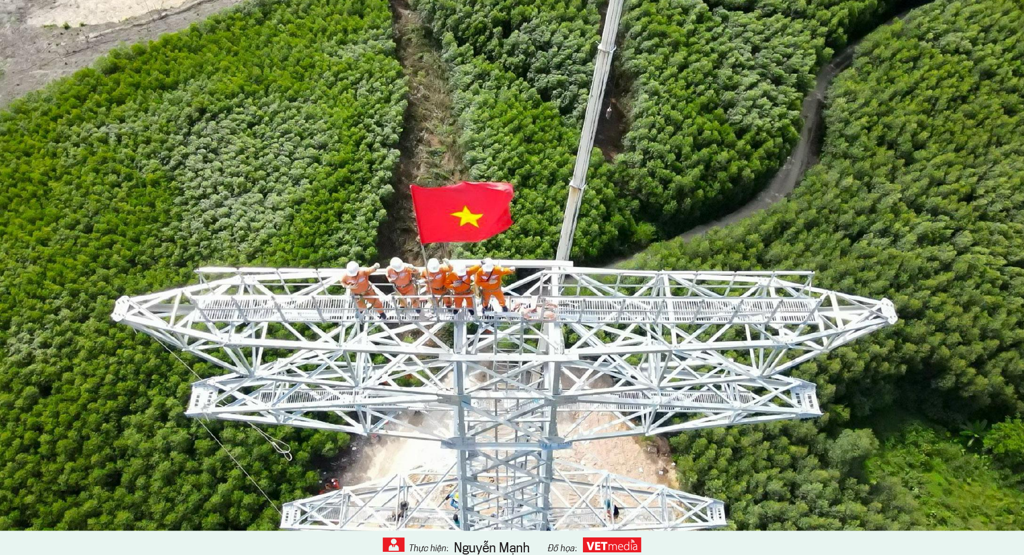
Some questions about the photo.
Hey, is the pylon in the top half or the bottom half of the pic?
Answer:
bottom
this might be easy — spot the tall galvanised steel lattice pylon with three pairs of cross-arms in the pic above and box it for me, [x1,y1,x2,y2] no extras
[112,258,896,555]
